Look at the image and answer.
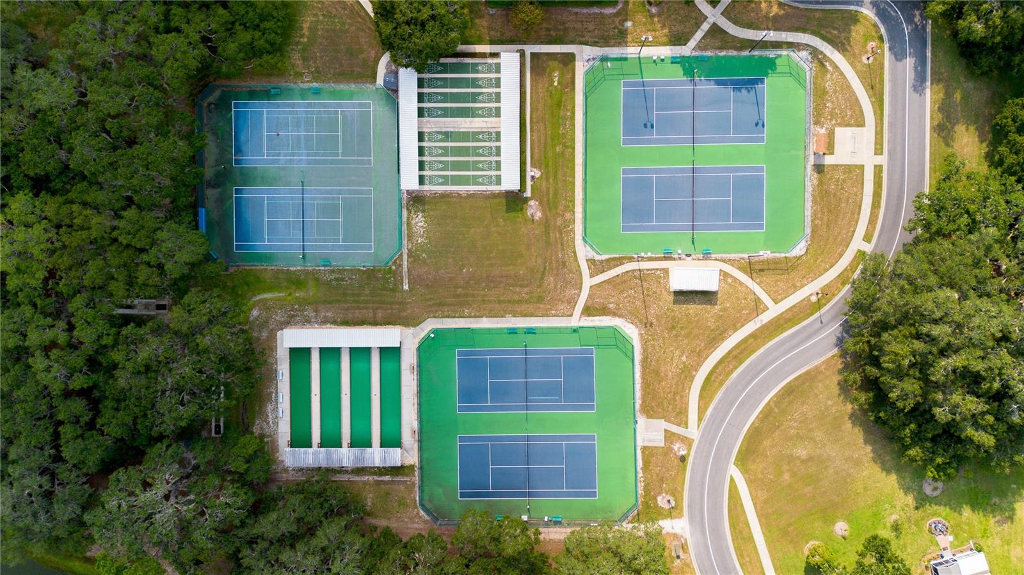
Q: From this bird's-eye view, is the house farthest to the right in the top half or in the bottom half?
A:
bottom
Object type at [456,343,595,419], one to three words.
tennis court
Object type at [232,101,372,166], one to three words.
tennis court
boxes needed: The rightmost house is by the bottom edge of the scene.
[924,540,991,575]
